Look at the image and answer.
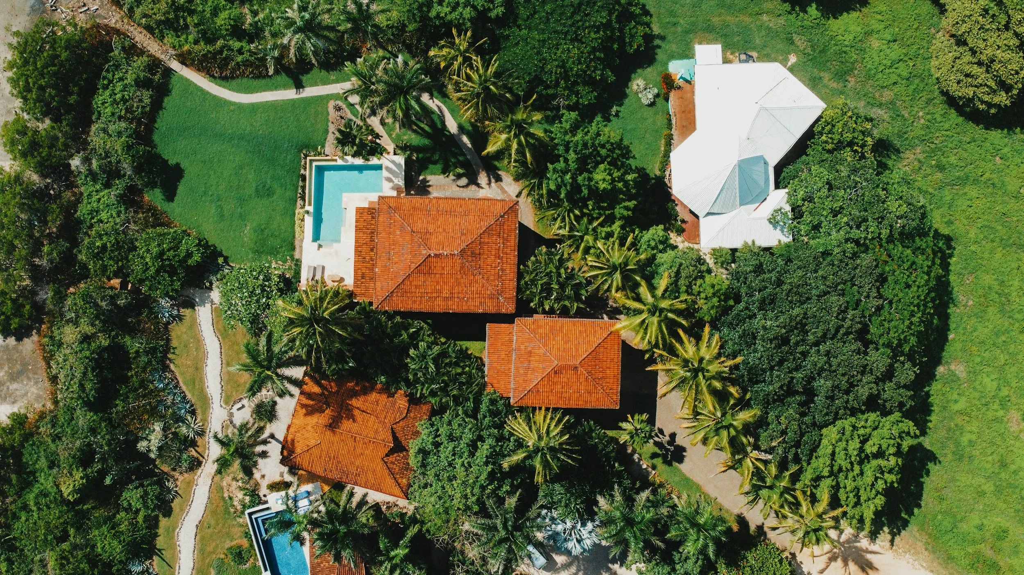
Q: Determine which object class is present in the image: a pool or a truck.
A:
pool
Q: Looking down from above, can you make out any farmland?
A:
No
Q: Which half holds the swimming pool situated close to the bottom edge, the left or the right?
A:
left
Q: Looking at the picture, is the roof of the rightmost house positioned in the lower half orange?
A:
Yes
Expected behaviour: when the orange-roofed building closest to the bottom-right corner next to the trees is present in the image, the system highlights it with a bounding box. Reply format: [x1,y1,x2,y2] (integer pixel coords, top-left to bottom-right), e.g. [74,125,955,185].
[485,314,622,410]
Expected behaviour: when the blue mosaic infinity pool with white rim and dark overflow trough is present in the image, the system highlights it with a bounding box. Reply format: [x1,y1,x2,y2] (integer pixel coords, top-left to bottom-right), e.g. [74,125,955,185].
[245,481,324,575]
